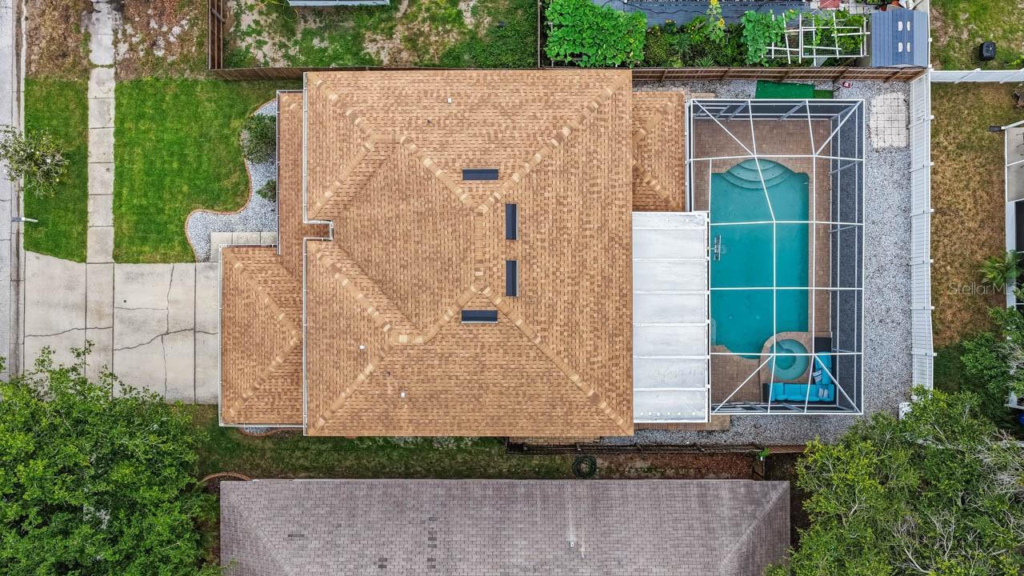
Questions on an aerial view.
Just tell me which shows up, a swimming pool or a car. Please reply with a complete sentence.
Visible in the photo is a swimming pool.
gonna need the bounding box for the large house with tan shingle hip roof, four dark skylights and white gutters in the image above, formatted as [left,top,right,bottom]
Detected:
[217,69,692,436]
